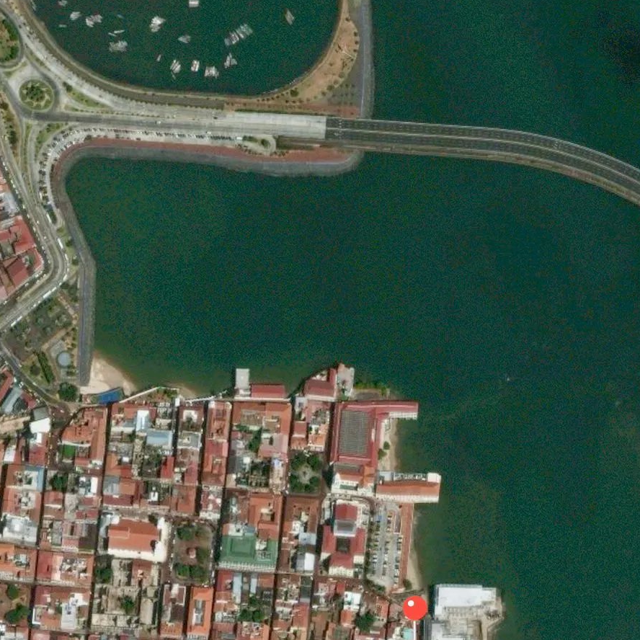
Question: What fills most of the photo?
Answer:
water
